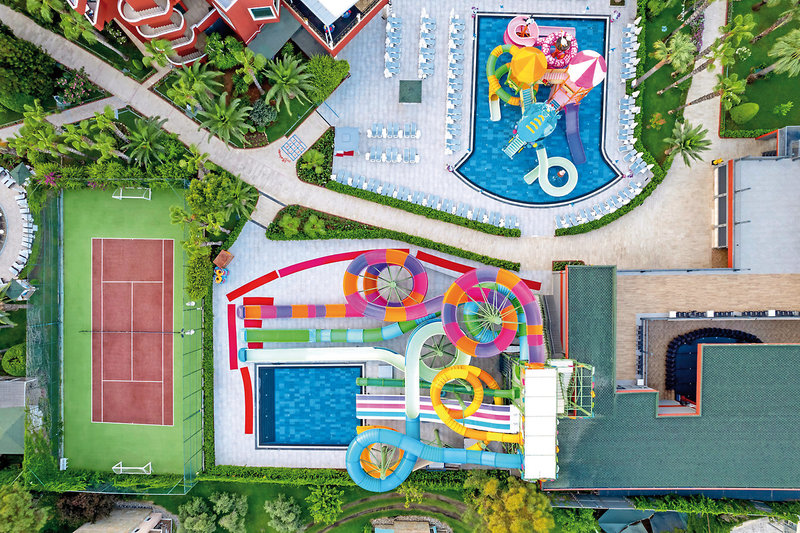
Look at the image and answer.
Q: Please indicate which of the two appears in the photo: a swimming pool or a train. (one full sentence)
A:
There is a swimming pool in the scene.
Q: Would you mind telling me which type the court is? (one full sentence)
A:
It looks like the court is a tennis court.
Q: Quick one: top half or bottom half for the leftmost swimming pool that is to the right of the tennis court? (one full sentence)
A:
The bottom half of the photo is where the leftmost swimming pool that is to the right of the tennis court is.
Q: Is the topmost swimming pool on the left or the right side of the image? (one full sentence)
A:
The topmost swimming pool sits on the right side.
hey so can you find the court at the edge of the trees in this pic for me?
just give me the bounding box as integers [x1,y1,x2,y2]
[64,187,204,471]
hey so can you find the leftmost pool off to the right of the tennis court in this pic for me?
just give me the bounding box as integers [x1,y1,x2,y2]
[255,363,363,448]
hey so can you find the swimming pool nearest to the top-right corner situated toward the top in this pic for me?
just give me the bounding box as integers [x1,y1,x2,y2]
[454,13,623,206]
